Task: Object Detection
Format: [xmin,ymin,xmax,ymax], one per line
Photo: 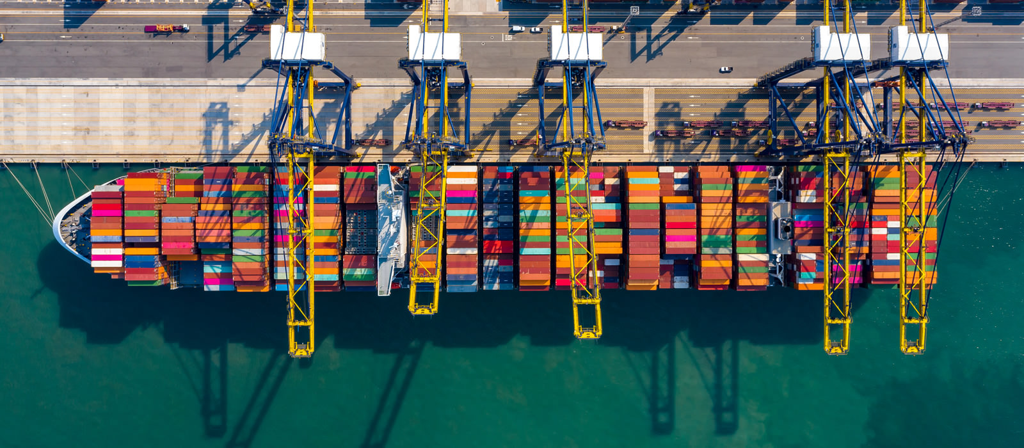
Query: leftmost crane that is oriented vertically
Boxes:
[259,0,368,360]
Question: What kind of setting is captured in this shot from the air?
port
